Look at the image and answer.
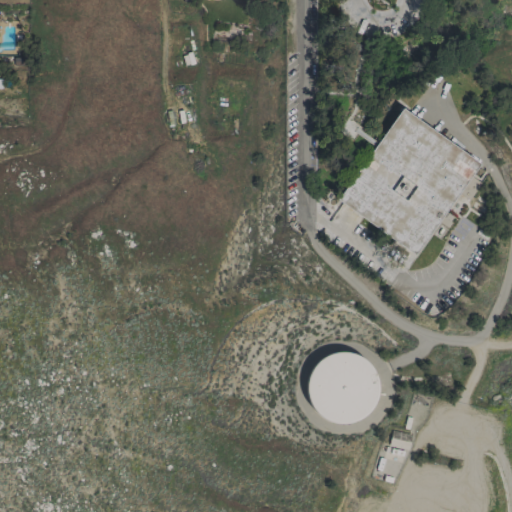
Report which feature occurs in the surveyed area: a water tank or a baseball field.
water tank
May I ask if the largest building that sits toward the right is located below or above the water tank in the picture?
above it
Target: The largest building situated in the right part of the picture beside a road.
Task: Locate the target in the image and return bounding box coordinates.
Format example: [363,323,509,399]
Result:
[342,108,482,256]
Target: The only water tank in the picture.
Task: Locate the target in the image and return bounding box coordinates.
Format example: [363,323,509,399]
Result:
[308,352,386,424]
